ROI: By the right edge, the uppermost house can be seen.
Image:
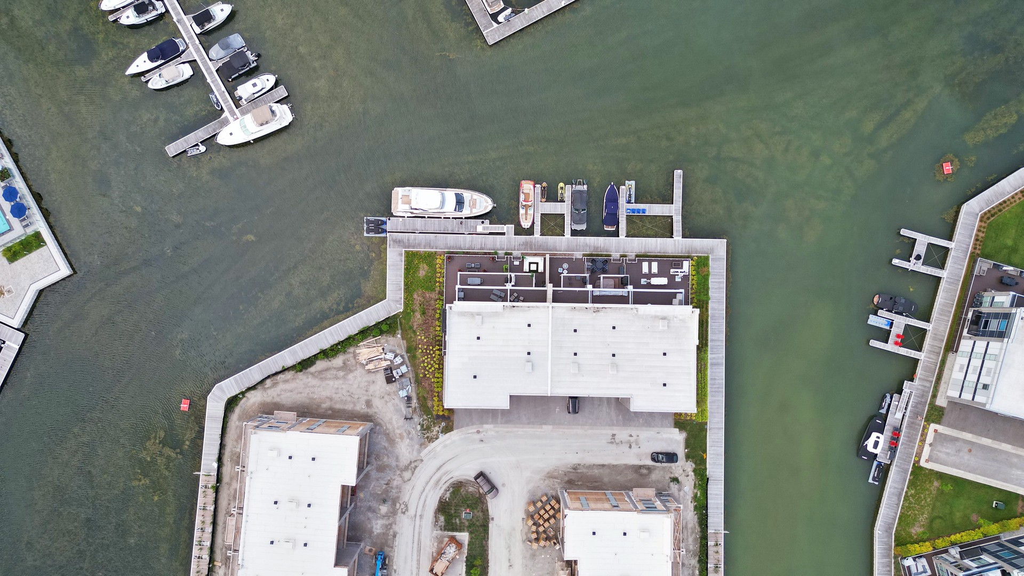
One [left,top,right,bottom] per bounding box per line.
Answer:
[947,258,1024,421]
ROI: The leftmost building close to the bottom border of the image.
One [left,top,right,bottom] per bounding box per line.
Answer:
[224,411,381,576]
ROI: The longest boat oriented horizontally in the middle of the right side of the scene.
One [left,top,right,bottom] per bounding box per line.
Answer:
[870,294,917,316]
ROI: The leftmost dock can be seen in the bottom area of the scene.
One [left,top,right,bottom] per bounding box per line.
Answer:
[0,320,29,397]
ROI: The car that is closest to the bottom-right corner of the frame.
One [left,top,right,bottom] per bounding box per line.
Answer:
[650,451,678,465]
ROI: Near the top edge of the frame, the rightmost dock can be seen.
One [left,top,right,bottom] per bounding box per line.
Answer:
[465,0,578,46]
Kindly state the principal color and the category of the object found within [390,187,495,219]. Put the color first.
white boat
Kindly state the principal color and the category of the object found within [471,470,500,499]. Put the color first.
gray car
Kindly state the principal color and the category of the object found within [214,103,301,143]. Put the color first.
white boat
